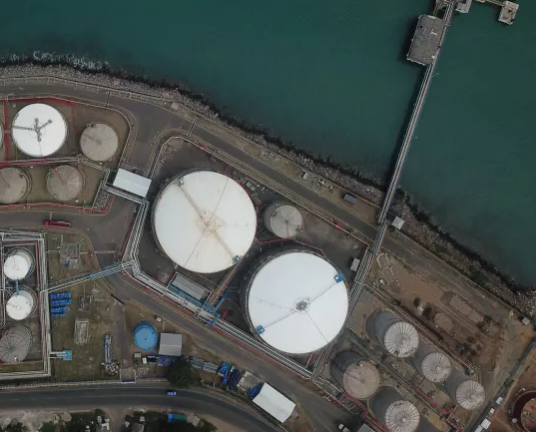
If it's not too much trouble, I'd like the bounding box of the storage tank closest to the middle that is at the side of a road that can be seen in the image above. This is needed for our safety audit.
[263,195,304,239]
